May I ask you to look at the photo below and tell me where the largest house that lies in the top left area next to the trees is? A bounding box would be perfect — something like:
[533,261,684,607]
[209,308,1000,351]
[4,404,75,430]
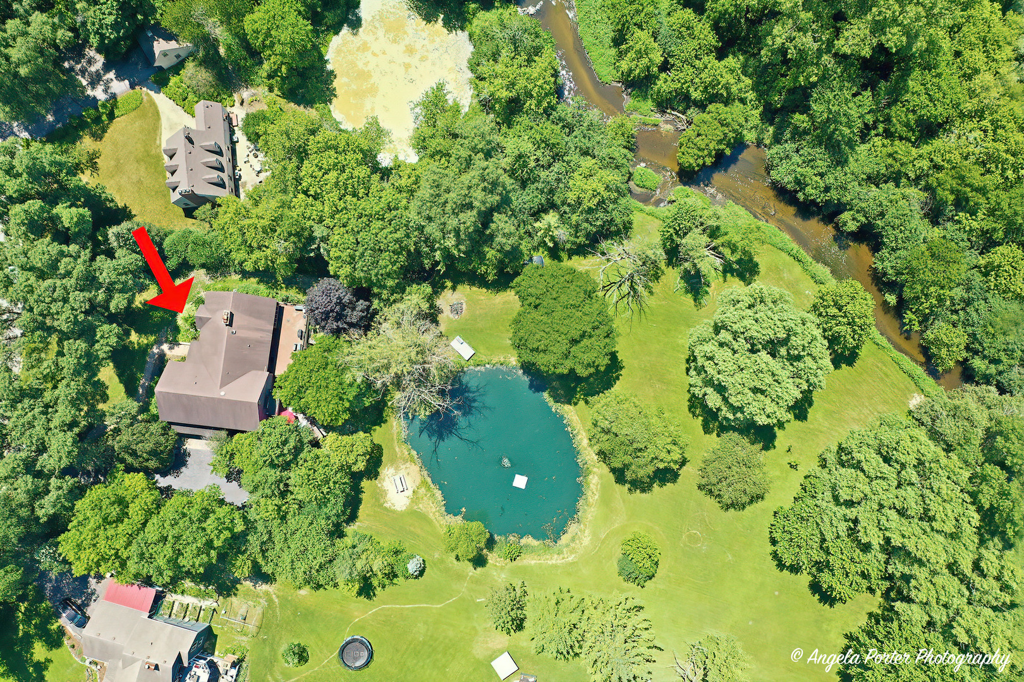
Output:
[162,98,238,206]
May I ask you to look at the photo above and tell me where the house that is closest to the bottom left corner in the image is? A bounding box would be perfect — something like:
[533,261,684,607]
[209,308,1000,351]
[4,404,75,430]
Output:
[83,572,208,682]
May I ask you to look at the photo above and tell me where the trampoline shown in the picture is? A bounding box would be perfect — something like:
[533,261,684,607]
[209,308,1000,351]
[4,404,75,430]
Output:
[337,633,374,674]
